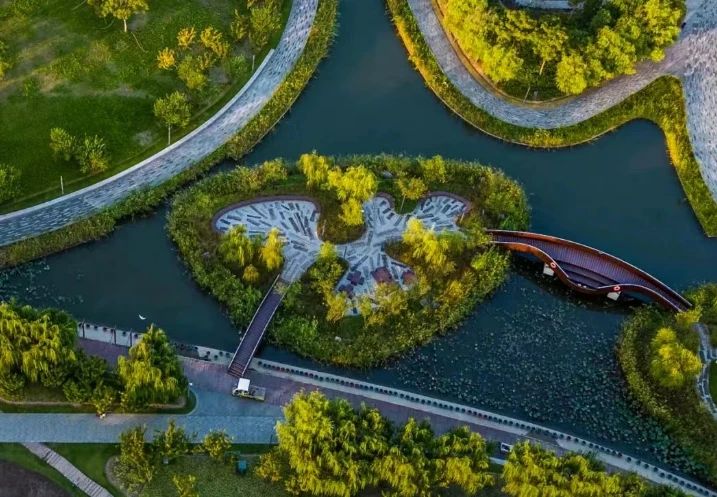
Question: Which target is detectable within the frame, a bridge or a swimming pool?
bridge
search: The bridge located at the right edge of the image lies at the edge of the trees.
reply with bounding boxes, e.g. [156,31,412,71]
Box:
[484,230,685,318]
